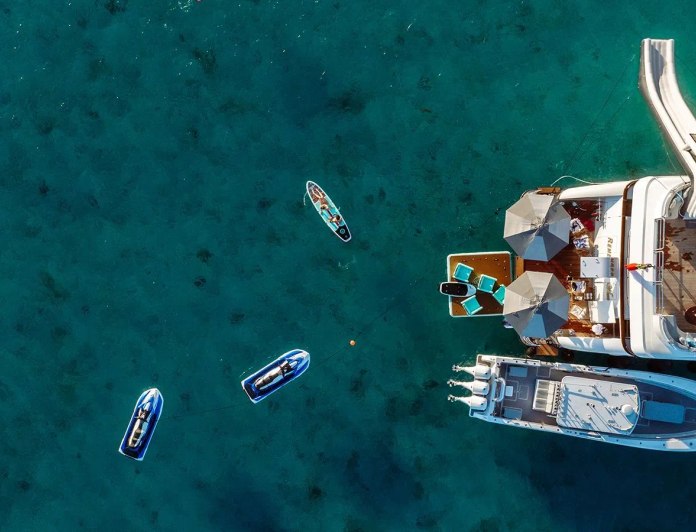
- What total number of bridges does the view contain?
0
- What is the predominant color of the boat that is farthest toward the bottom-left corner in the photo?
blue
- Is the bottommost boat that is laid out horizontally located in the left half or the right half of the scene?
right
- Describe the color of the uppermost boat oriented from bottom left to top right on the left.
blue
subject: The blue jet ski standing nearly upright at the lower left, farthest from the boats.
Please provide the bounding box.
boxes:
[120,389,164,461]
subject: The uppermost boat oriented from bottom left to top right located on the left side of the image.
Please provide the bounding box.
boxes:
[243,349,310,403]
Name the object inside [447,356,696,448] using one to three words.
boat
